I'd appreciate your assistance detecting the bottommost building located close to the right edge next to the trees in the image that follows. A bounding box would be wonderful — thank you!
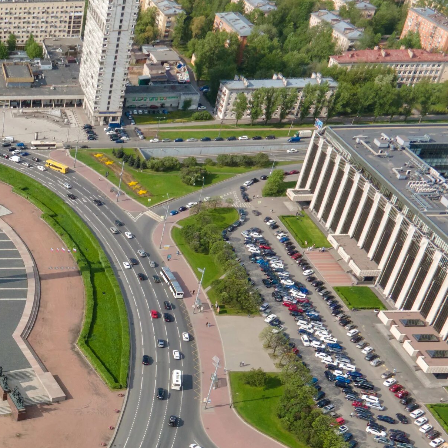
[296,124,448,353]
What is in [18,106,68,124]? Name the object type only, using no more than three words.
fountain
